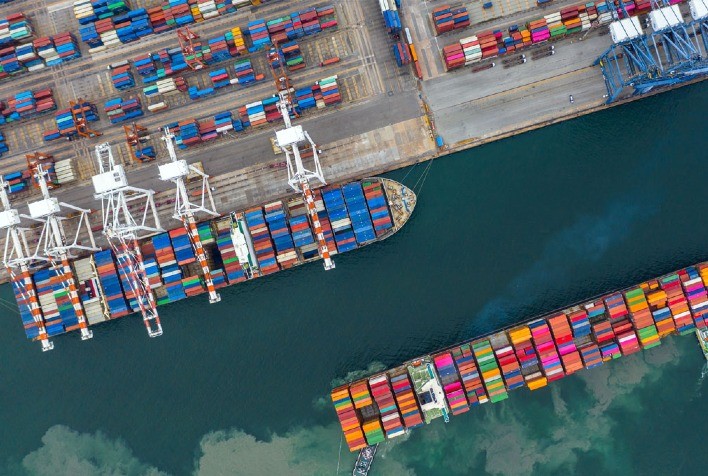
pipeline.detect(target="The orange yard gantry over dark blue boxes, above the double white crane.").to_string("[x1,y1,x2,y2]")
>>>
[69,99,106,143]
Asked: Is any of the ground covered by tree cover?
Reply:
No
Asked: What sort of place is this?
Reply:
port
